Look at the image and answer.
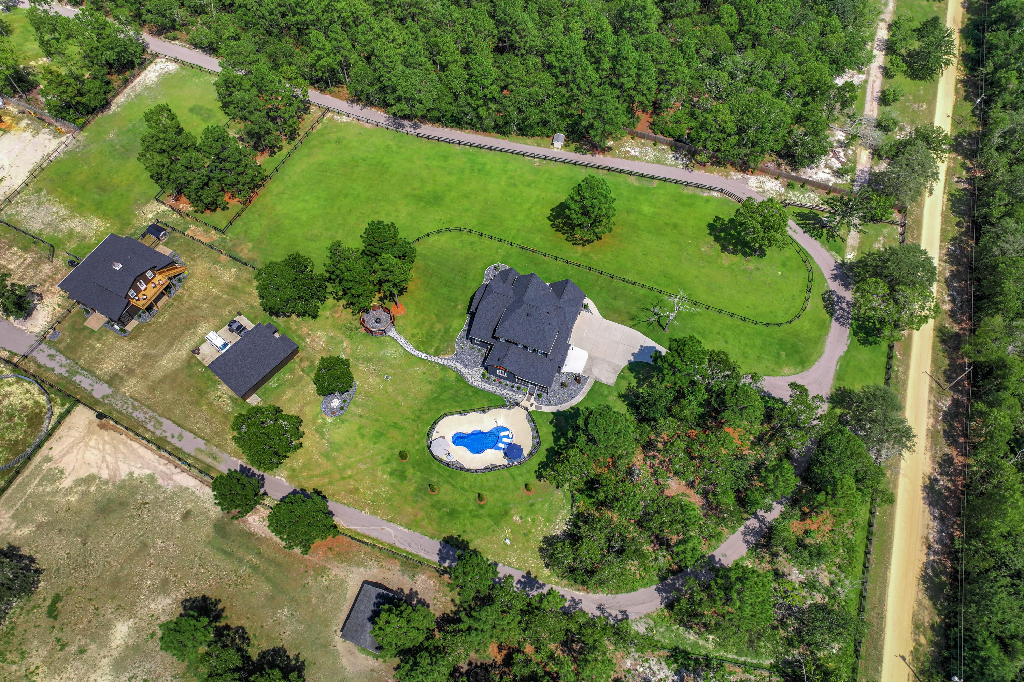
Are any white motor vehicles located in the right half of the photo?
No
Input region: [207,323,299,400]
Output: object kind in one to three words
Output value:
building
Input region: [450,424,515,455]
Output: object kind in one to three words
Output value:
swimming pool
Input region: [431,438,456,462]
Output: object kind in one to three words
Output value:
umbrella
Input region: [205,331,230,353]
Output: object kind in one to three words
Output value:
truck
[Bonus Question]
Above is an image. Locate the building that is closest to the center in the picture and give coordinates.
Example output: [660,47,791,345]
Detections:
[469,267,587,396]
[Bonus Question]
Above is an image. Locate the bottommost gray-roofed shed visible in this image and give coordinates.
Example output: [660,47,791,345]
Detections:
[340,583,394,654]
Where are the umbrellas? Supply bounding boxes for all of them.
[506,443,523,460]
[431,438,456,462]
